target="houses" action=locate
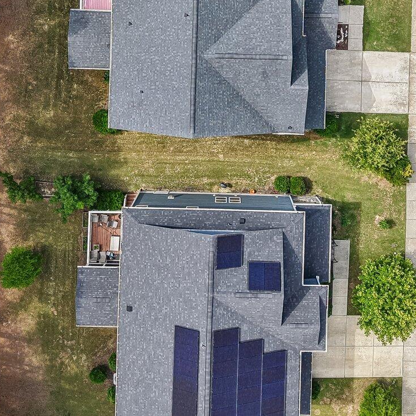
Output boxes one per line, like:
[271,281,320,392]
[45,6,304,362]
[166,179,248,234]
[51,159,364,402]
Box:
[68,0,338,138]
[76,192,333,416]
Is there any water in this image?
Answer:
No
